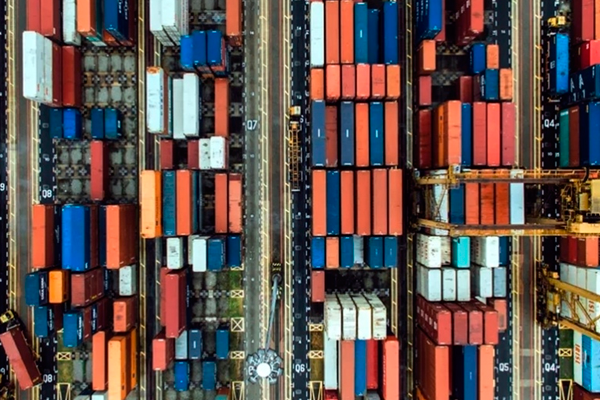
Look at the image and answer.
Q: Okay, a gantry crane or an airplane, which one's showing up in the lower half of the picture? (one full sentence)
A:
The one visible in the lower half of the picture is a gantry crane.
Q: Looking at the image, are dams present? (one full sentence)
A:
No, I can see no dam in this picture.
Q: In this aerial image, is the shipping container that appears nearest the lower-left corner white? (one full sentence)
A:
No, the shipping container that appears nearest the lower-left corner is red.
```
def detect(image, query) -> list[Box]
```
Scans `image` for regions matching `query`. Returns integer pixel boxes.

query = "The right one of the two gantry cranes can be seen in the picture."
[538,266,600,345]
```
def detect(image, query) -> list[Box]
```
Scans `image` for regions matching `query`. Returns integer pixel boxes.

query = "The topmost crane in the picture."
[405,159,600,237]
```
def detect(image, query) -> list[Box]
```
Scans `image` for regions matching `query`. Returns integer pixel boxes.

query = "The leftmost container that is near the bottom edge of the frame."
[0,325,41,389]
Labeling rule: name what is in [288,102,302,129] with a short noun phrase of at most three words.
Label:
vehicle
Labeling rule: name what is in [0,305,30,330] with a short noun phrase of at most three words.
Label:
truck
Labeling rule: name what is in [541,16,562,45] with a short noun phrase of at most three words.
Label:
truck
